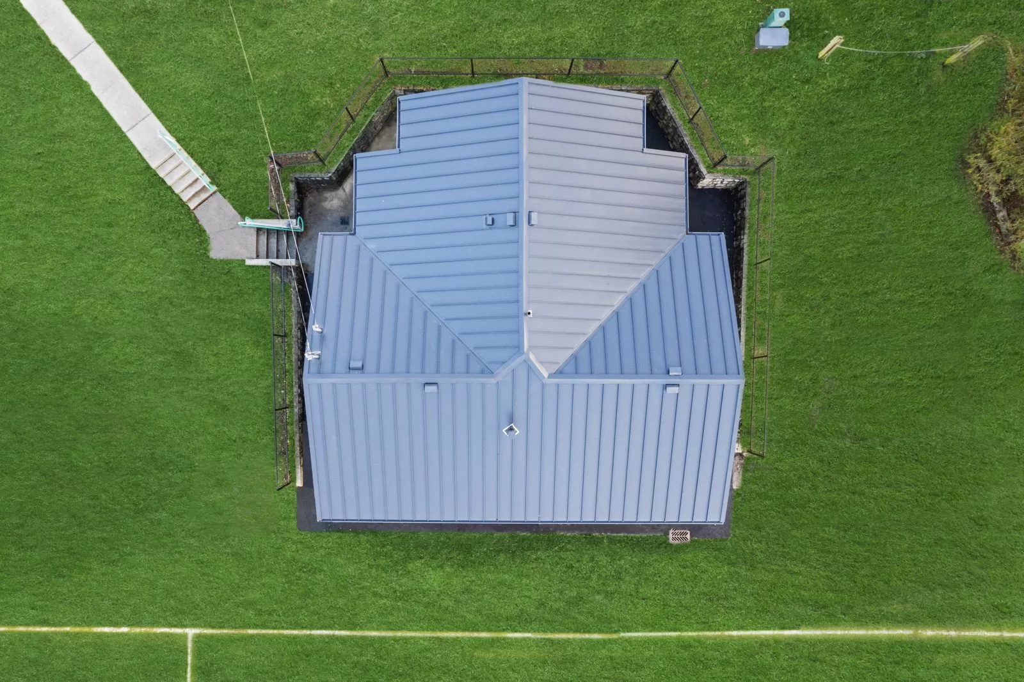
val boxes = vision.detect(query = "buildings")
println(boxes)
[303,77,745,526]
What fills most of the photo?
grass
